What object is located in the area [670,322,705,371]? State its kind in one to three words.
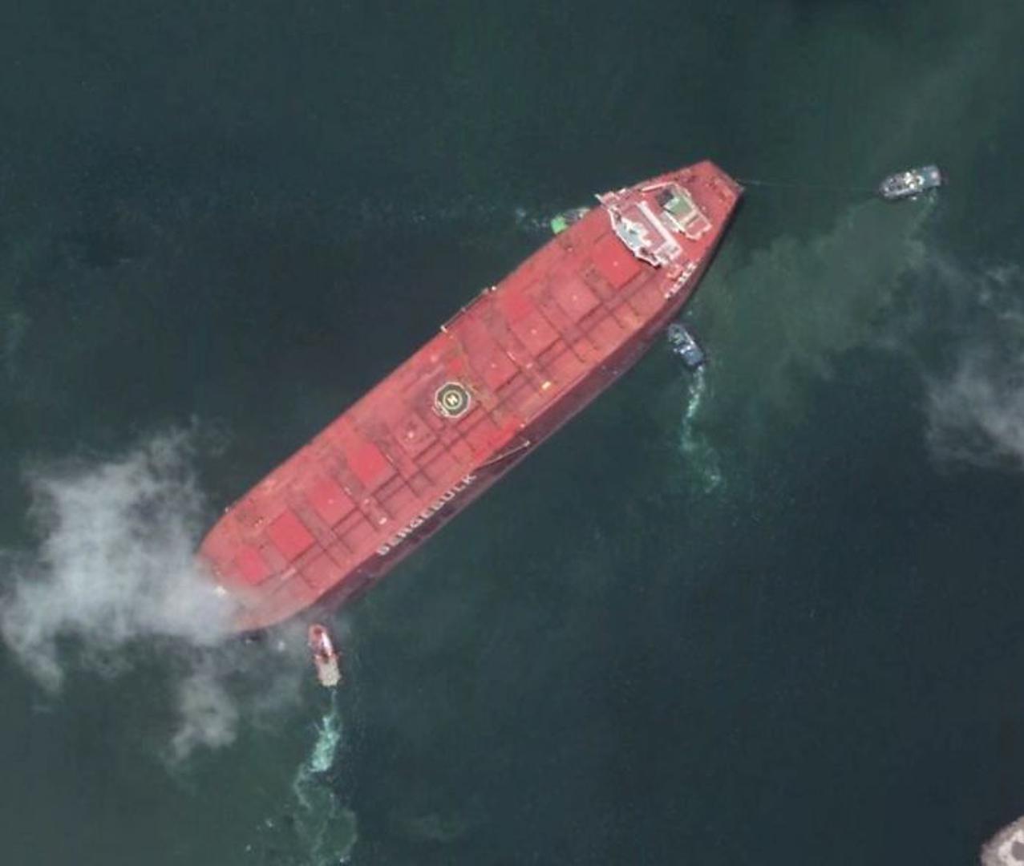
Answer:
boat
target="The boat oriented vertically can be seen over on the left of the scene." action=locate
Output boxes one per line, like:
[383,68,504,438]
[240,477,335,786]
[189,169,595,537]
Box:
[308,623,341,690]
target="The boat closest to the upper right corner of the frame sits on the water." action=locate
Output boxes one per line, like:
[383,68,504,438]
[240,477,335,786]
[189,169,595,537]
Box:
[879,168,943,198]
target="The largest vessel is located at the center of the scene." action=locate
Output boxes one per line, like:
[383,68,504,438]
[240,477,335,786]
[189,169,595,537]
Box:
[190,158,741,630]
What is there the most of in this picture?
water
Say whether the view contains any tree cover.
No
